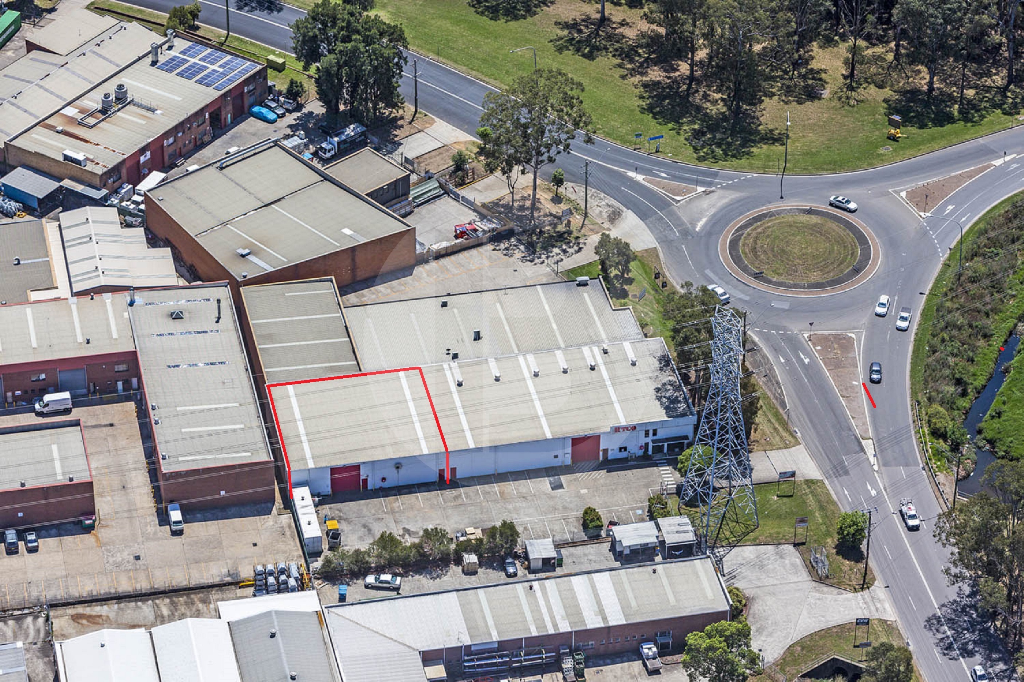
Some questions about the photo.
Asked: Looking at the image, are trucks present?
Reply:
Yes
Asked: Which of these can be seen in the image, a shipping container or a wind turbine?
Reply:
shipping container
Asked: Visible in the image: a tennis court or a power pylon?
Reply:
power pylon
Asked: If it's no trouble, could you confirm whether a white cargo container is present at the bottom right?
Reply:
No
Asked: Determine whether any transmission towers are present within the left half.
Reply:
No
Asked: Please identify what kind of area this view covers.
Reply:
industrial area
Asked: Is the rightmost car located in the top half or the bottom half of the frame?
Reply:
bottom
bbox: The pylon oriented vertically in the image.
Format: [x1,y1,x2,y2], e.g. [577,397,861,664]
[672,305,769,552]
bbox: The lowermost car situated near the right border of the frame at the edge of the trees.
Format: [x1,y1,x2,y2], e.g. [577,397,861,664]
[970,662,990,682]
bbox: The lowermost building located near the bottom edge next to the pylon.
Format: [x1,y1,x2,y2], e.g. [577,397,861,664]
[323,552,733,675]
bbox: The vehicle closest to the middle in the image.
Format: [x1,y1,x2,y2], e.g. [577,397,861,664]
[455,222,473,238]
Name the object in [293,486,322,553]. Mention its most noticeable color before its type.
white shipping container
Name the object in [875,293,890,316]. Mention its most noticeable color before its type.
white car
